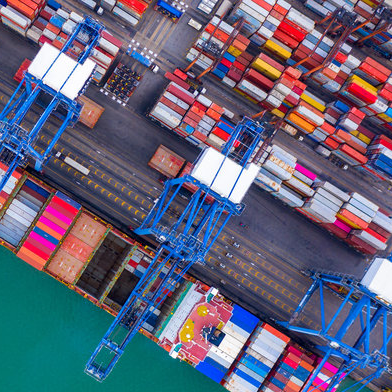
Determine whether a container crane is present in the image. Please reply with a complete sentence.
Yes, a container crane is visible in the scene.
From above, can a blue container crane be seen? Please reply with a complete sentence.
Yes, there's a blue container crane down there.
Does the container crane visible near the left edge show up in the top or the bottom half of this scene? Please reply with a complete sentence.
You can find the container crane visible near the left edge in the top half.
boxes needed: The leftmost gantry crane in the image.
[0,12,105,190]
